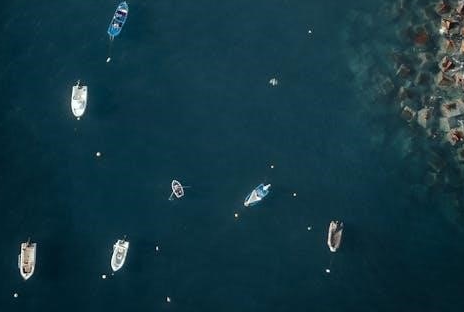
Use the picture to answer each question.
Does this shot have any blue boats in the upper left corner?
Yes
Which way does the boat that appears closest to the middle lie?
diagonally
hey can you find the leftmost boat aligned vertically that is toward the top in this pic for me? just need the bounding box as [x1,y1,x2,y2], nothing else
[71,80,88,117]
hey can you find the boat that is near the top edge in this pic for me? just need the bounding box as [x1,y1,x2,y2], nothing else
[107,2,127,41]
